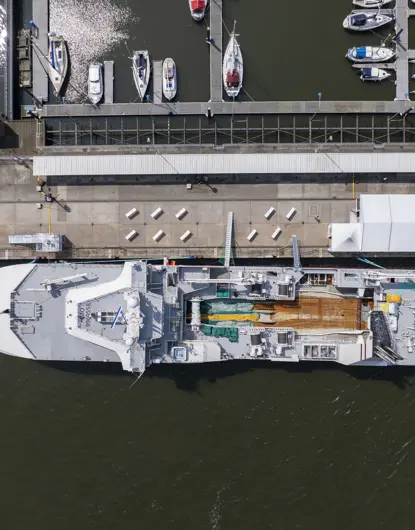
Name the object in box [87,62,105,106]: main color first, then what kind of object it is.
white boat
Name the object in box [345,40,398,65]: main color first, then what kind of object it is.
white boat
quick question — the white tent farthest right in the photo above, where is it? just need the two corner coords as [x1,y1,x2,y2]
[352,194,415,252]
